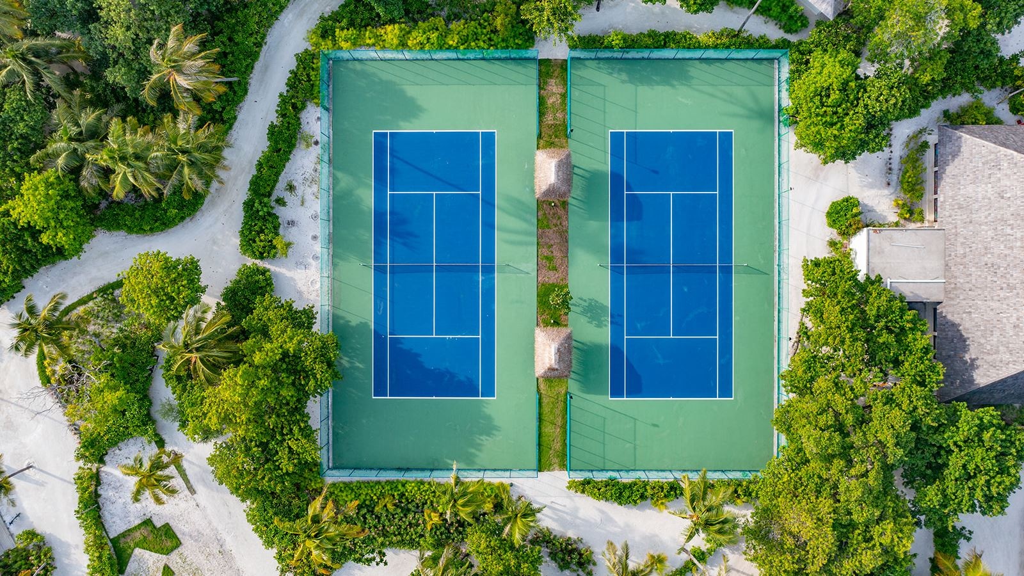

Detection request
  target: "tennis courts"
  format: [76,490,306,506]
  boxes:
[568,58,778,471]
[328,60,538,471]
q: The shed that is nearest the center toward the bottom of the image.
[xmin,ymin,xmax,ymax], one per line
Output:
[534,326,573,379]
